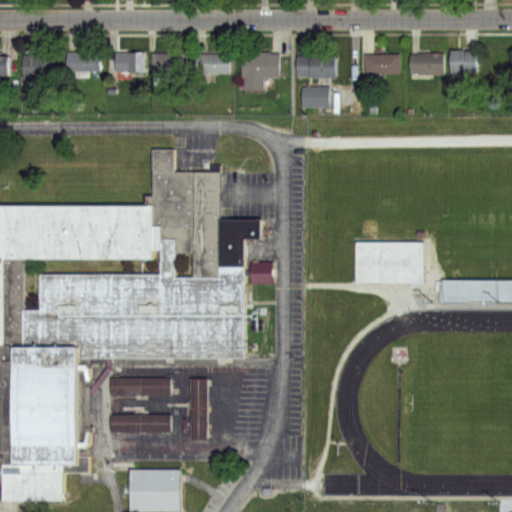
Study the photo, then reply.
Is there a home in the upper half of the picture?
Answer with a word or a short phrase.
Yes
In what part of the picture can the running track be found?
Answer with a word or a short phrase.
bottom right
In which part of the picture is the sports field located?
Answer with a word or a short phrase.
bottom right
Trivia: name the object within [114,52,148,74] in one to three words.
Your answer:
house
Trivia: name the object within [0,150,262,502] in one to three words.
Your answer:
building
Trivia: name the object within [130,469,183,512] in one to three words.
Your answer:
building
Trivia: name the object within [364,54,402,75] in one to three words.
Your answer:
house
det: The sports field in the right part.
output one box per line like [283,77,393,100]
[358,331,512,475]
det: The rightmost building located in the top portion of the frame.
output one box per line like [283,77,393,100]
[448,50,477,74]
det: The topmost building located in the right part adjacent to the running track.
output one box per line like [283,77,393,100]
[356,242,426,284]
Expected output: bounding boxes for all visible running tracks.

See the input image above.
[325,312,512,494]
